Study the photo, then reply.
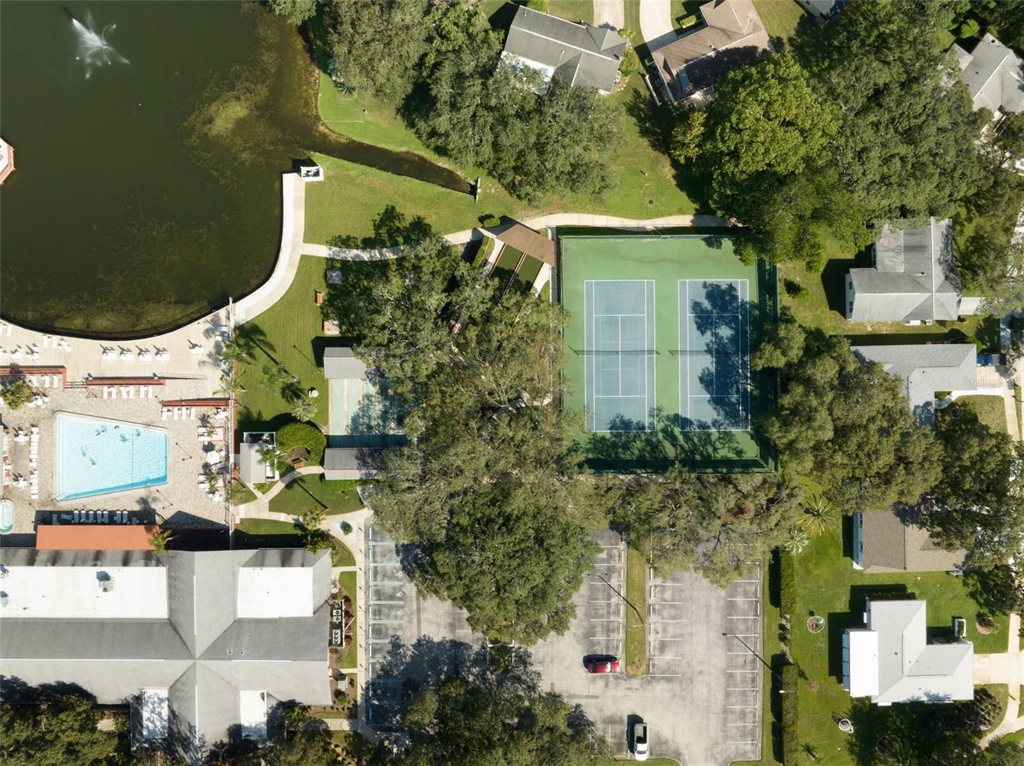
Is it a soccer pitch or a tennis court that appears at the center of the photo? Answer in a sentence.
Visible at the center of the photo is a tennis court.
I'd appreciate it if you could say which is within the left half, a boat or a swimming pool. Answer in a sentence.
Looking within the left half, you will find a swimming pool.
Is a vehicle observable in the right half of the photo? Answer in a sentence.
Yes, looking in the right half of the photo, one can make out a vehicle.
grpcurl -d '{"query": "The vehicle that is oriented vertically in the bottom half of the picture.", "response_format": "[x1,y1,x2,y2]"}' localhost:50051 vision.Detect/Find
[633,721,649,761]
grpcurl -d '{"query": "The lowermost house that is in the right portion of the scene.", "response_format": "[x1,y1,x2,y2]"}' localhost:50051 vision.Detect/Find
[844,598,973,703]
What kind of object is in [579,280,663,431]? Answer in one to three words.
tennis court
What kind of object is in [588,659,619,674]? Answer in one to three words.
car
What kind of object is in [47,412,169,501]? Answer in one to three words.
swimming pool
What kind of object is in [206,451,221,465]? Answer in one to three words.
umbrella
